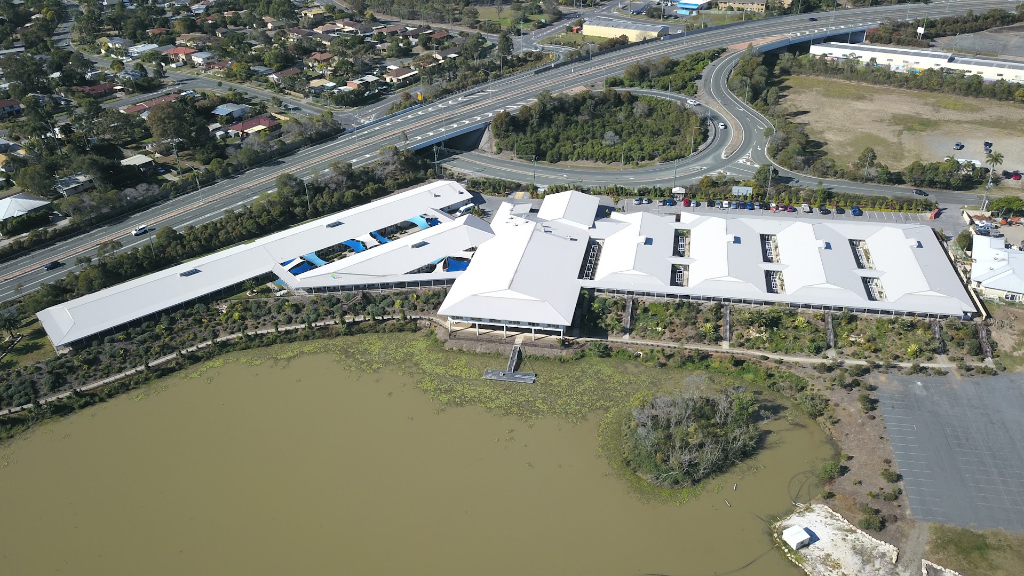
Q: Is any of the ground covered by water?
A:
Yes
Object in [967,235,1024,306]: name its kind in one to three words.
building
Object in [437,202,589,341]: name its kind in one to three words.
building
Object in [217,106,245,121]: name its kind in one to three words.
house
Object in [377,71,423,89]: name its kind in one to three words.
house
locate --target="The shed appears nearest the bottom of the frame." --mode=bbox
[782,525,810,553]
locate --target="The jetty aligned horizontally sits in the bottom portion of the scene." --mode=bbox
[483,368,536,383]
